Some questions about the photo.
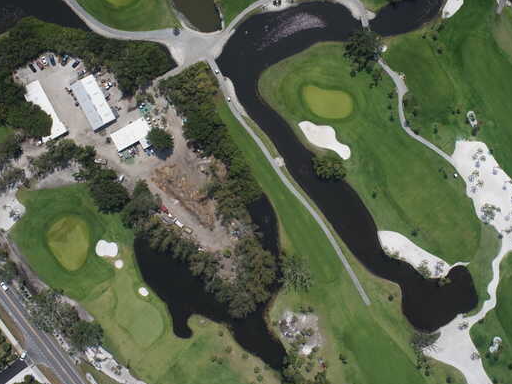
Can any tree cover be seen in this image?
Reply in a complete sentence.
Yes, tree cover can be seen from above here.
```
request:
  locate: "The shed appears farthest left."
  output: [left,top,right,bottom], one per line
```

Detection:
[24,80,69,139]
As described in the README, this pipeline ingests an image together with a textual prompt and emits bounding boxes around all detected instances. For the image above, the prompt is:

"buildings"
[110,117,150,151]
[70,74,118,130]
[24,80,69,139]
